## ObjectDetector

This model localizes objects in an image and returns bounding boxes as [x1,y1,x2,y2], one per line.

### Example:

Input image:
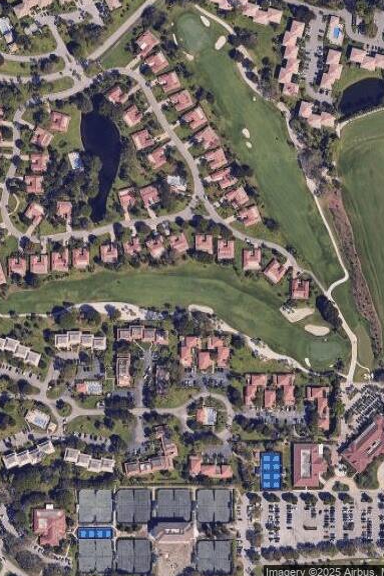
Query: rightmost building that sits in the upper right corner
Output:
[350,47,384,70]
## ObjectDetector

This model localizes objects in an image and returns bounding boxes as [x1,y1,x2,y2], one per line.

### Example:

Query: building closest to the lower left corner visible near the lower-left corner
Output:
[33,505,66,547]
